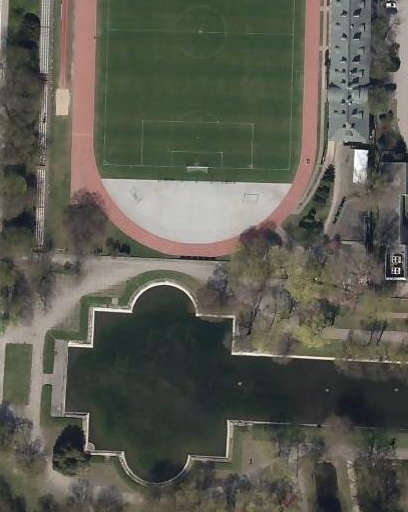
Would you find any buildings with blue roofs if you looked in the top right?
No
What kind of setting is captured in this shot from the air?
sports ground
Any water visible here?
Yes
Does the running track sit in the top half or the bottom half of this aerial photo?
top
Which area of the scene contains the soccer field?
top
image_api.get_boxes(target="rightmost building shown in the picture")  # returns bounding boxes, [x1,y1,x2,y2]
[376,162,408,279]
